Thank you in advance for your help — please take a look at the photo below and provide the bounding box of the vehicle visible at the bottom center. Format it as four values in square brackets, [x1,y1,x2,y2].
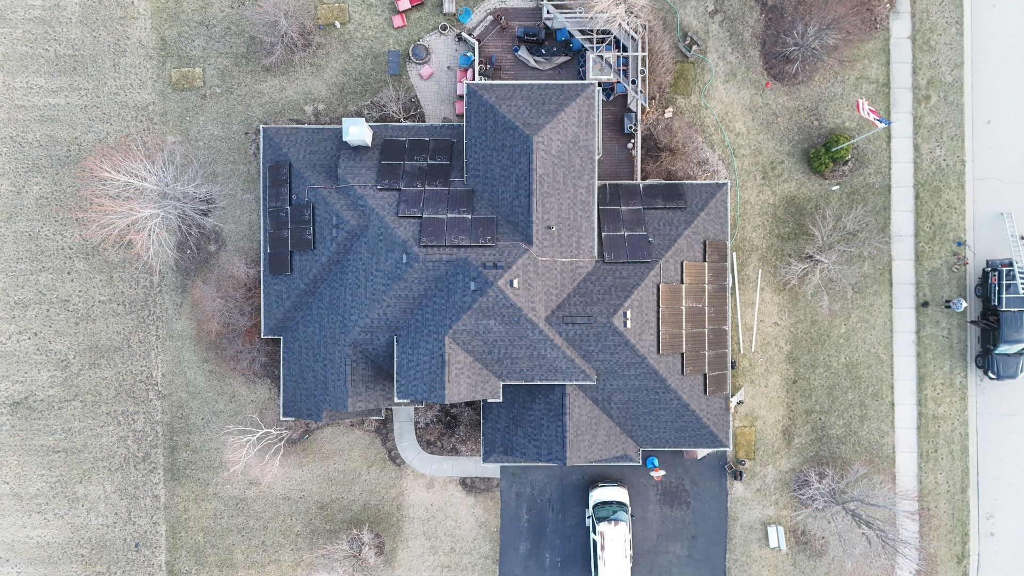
[583,480,635,576]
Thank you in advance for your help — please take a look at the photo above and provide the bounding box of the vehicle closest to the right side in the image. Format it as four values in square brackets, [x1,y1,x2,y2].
[960,251,1024,379]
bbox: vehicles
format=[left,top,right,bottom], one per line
[583,480,635,576]
[960,251,1024,379]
